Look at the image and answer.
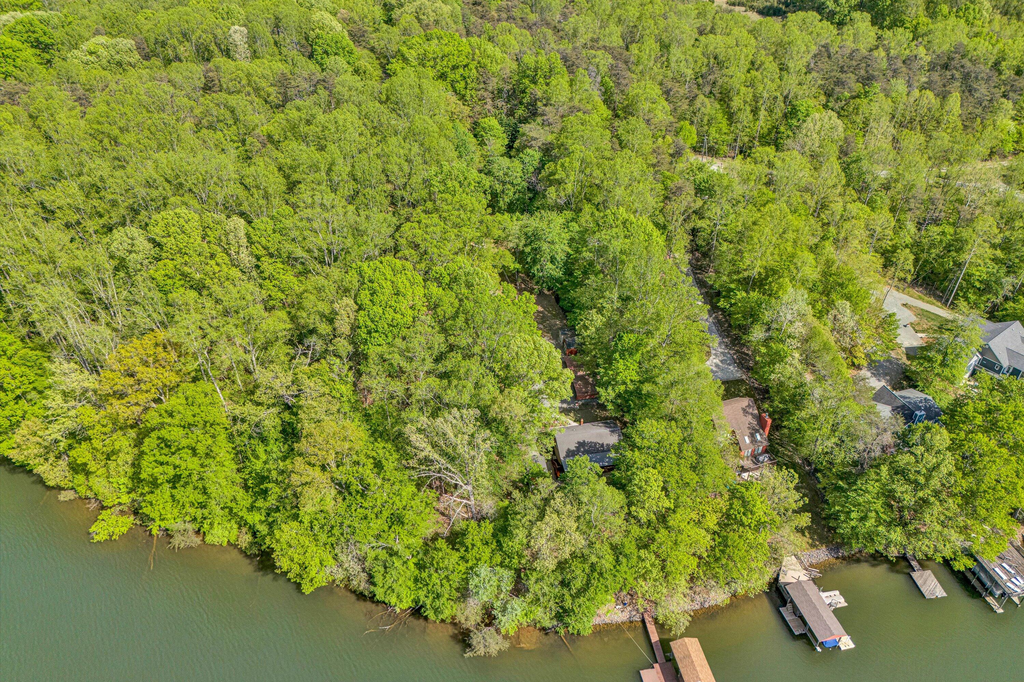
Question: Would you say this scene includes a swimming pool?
No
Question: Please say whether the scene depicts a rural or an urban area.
rural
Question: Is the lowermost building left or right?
right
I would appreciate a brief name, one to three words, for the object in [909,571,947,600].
pier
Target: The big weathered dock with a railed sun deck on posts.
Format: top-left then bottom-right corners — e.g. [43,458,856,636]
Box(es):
[958,532,1024,622]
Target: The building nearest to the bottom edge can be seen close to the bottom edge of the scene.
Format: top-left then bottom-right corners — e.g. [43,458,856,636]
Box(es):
[669,636,715,682]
